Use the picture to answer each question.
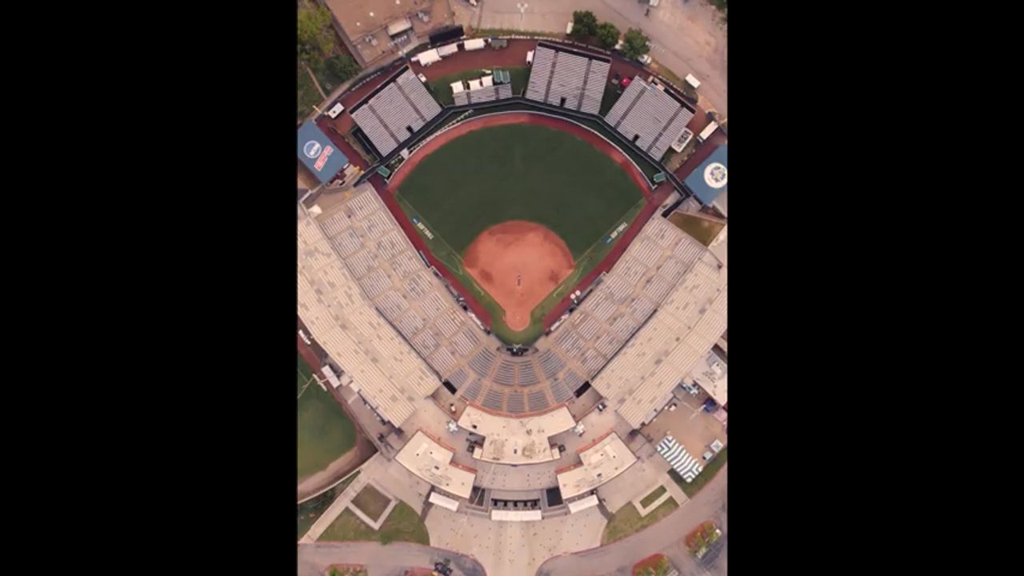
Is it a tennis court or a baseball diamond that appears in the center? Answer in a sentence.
It is a baseball diamond that can be seen in the center.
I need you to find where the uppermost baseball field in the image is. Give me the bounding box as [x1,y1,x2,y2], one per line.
[371,113,668,346]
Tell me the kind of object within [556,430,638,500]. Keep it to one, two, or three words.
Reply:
building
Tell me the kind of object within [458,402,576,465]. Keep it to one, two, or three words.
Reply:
building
